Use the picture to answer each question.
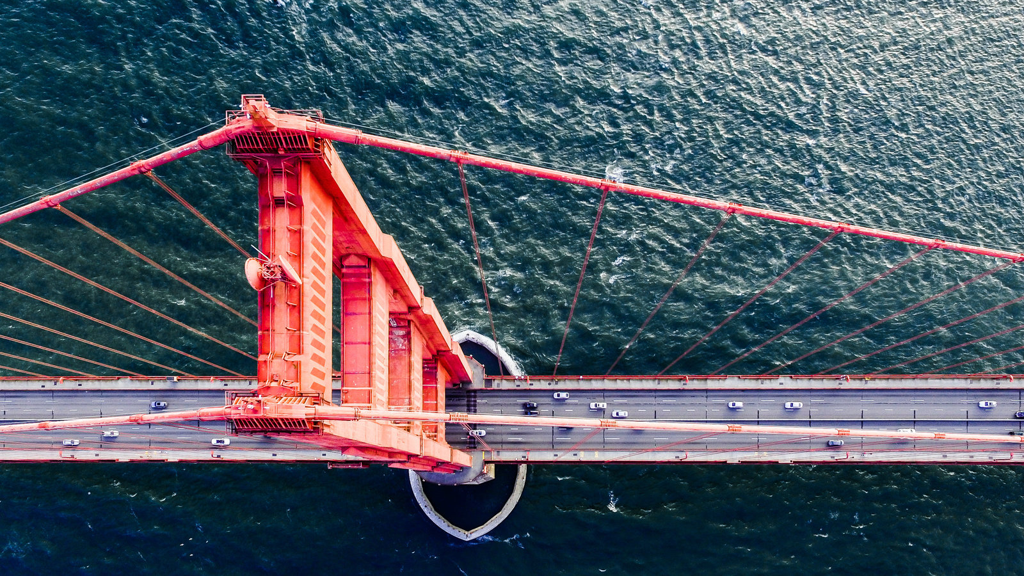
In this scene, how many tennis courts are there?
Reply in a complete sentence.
No tennis courts are visible.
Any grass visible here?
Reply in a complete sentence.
No, the picture contains no grass.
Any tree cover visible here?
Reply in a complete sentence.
No, the scene doesn't show any tree cover.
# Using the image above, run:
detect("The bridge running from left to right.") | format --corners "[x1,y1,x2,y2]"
[0,94,1024,484]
